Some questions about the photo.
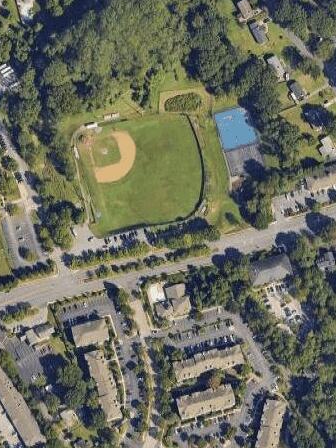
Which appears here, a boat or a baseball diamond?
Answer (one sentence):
This aerial view contains a baseball diamond.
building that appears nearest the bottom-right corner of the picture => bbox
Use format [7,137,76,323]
[258,401,283,448]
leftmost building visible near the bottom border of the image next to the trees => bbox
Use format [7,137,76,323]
[0,370,42,448]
